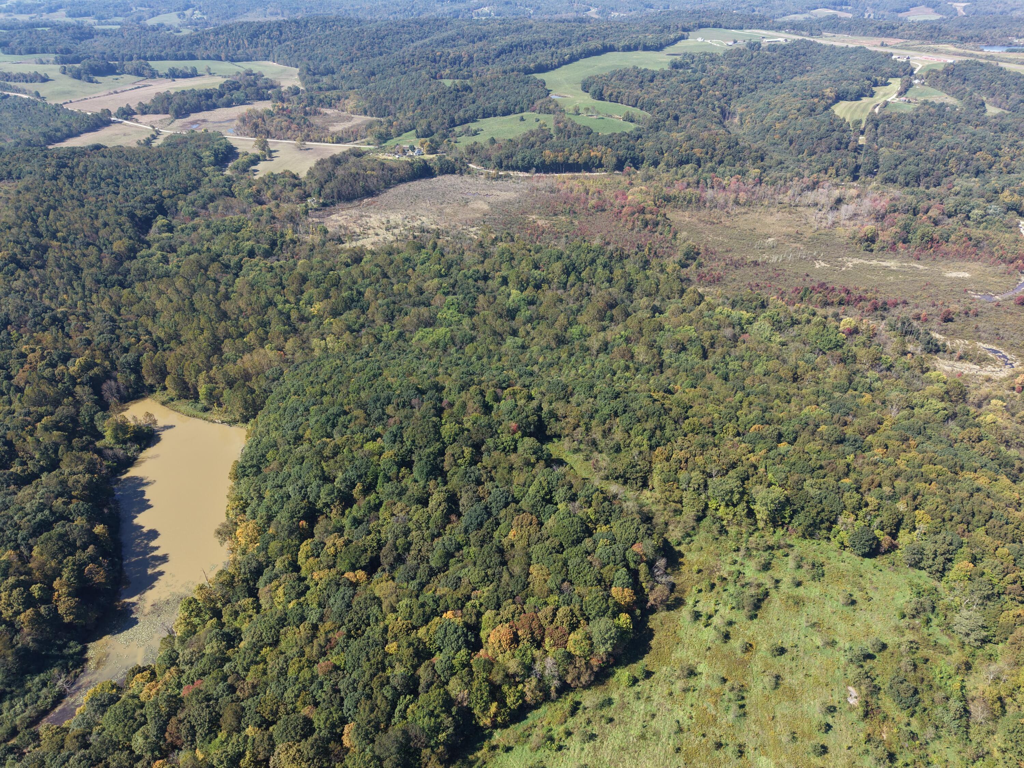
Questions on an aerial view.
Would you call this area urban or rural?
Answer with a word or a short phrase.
rural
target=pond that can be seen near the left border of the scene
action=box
[0,399,246,768]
